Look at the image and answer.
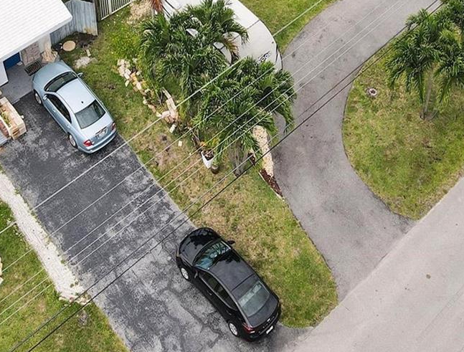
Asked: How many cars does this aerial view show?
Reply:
two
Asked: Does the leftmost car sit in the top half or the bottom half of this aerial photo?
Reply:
top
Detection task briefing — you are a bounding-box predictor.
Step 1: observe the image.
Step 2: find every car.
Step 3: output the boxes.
[178,225,286,348]
[31,59,119,156]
